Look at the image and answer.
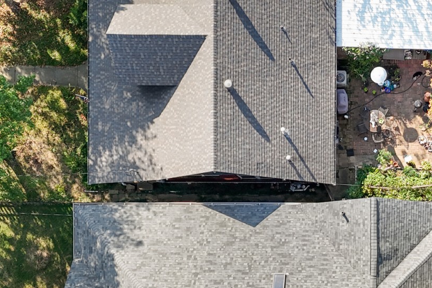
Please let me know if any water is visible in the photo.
No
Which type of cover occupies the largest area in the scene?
buildings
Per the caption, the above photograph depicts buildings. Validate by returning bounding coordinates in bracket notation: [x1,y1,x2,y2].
[64,195,432,288]
[86,0,339,188]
